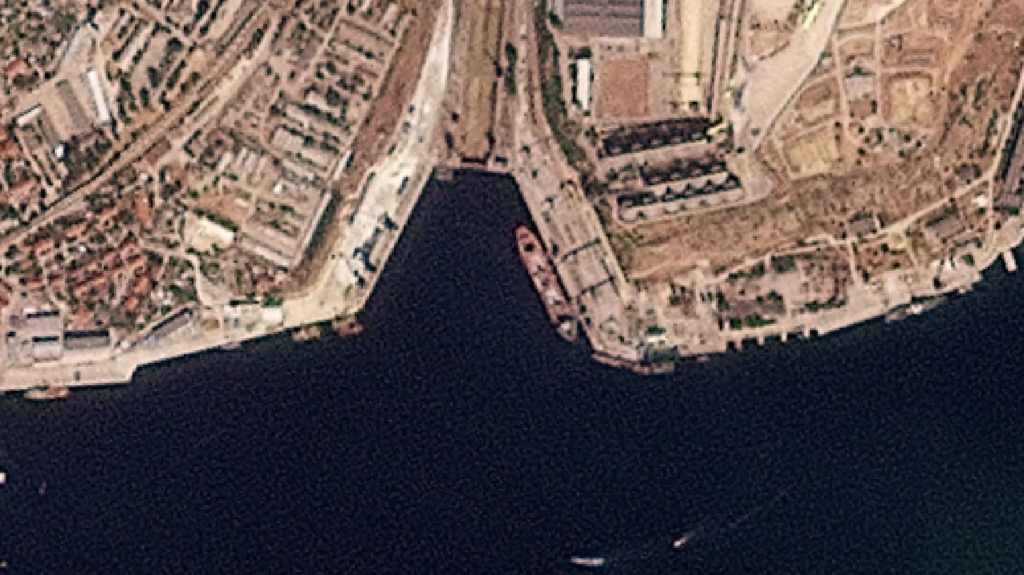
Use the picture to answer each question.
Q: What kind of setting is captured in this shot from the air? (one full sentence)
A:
What you see here is a port.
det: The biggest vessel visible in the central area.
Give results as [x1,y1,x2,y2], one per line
[518,226,572,326]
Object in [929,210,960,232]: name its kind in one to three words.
shed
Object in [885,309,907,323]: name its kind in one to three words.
boat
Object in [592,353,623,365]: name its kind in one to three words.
ship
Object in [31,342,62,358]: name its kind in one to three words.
building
